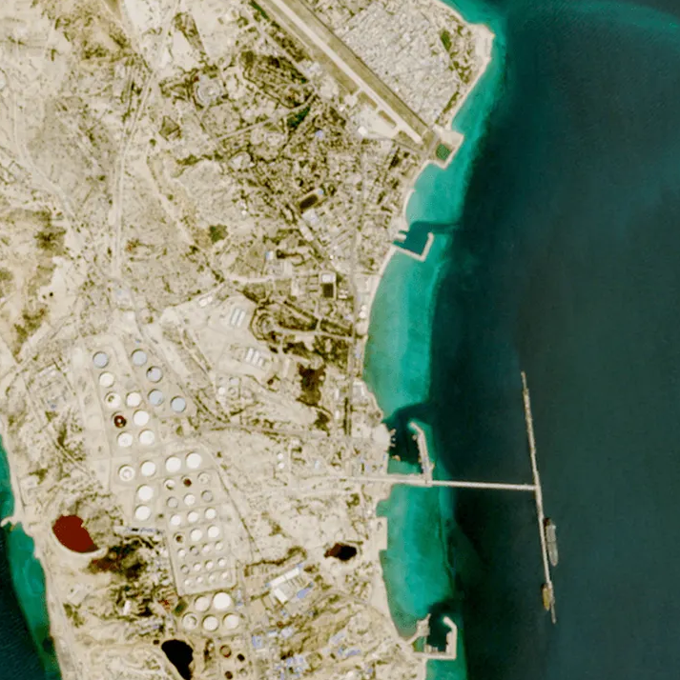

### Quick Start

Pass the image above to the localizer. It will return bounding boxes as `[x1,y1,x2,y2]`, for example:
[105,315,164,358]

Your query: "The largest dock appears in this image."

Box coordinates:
[385,371,555,624]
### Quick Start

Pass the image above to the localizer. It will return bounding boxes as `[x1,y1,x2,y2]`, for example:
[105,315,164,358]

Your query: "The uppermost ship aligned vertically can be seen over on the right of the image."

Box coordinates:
[546,520,558,566]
